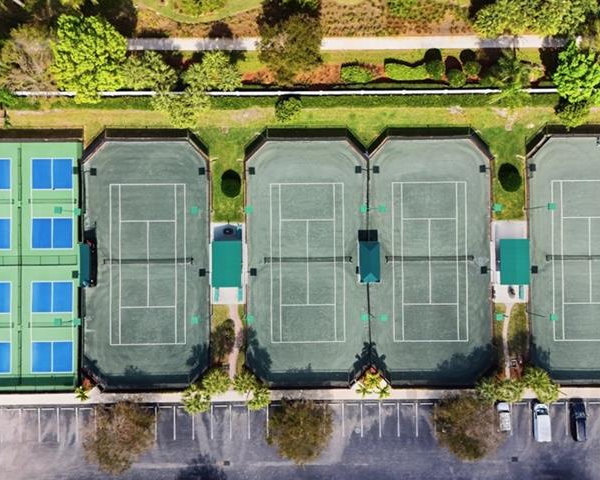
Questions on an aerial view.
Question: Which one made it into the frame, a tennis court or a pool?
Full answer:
Of the two, only a tennis court appears.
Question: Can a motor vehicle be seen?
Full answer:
Yes, the image includes a motor vehicle.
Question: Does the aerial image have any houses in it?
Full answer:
No, the scene contains no house.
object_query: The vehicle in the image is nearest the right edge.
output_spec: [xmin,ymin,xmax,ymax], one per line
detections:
[569,400,587,439]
